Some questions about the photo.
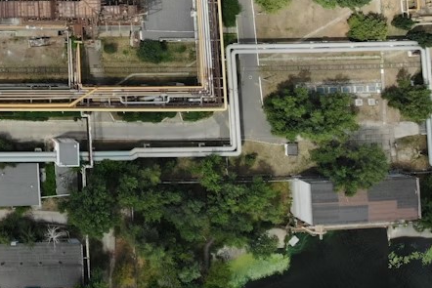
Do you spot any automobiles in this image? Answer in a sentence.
No, no automobile can be seen from above.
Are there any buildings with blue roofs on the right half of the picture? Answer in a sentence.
No, there is no building with a blue roof on the right half of the picture.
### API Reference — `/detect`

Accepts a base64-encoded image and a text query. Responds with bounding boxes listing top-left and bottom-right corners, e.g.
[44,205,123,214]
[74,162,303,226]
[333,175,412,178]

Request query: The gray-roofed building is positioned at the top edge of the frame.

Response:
[137,0,195,42]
